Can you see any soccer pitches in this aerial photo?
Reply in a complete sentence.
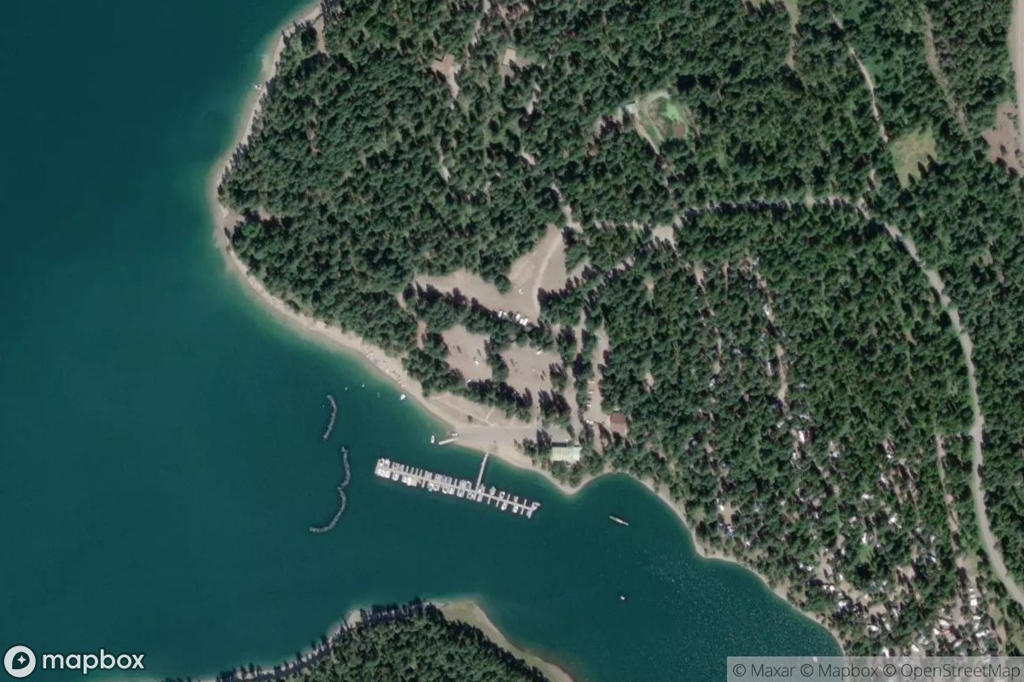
No, the picture doesn't show any soccer pitch.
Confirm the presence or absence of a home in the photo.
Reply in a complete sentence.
Yes, the frame does contain a home.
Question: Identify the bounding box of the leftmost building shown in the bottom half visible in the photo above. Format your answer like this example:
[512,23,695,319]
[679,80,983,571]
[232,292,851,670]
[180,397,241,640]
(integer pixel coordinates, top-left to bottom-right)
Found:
[552,447,581,463]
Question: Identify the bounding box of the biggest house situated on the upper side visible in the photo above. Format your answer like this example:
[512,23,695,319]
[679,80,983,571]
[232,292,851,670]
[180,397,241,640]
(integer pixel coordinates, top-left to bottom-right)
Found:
[433,54,457,74]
